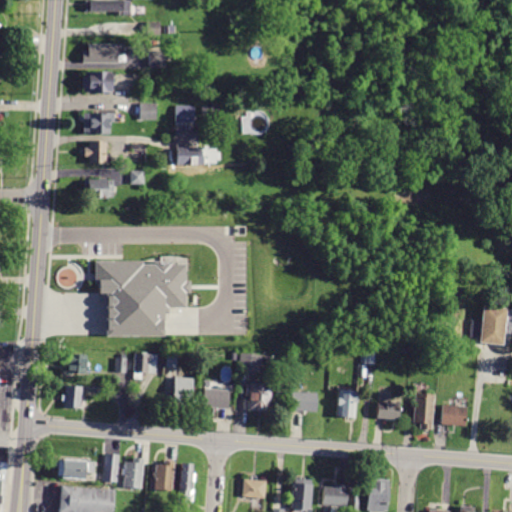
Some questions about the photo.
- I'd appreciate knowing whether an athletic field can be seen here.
No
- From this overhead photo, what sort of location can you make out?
residential area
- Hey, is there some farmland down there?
No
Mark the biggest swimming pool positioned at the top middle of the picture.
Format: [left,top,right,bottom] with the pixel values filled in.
[251,115,268,132]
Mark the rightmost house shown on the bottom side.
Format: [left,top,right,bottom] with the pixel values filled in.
[482,308,510,347]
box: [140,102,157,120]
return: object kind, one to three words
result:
building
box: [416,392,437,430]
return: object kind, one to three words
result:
house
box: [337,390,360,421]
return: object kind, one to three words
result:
house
